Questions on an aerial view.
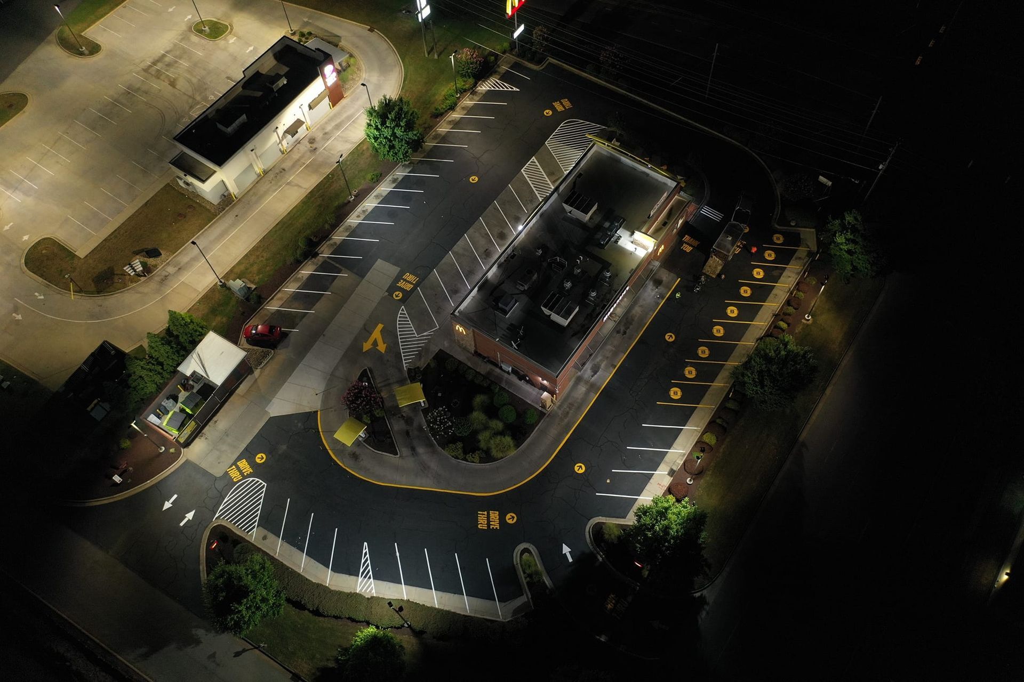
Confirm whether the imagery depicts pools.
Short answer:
No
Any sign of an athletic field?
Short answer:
No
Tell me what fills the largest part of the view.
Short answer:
paved ground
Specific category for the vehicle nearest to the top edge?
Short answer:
truck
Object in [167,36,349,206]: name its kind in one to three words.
building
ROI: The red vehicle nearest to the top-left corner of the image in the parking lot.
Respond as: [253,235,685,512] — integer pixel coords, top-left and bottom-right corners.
[242,320,281,339]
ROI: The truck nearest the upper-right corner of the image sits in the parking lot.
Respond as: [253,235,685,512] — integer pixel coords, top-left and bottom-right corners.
[702,197,754,278]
